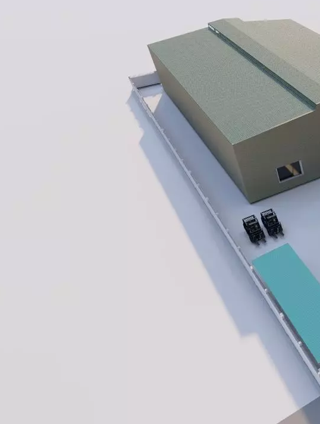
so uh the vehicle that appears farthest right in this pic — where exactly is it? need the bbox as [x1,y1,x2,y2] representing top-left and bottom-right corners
[262,208,283,238]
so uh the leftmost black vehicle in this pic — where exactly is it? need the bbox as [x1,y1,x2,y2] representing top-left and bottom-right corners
[244,214,265,244]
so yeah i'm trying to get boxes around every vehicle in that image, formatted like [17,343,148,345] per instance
[244,214,265,244]
[262,208,283,238]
